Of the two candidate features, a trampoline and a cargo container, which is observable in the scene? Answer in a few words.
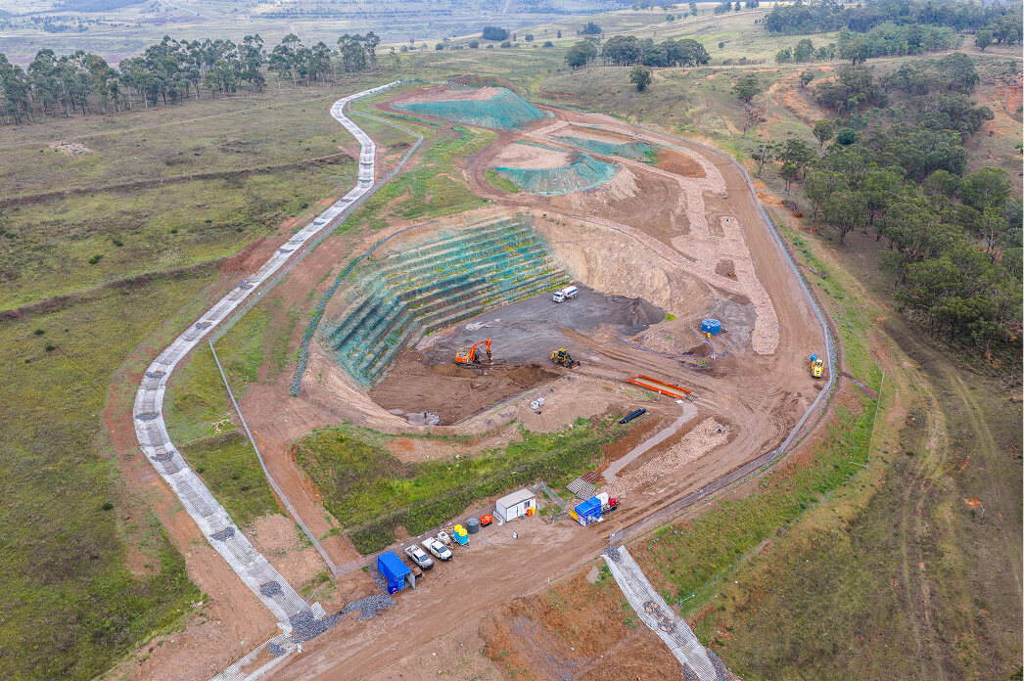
cargo container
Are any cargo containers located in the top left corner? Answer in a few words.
No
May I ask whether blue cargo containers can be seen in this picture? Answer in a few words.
Yes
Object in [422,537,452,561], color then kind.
white truck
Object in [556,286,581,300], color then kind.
white vehicle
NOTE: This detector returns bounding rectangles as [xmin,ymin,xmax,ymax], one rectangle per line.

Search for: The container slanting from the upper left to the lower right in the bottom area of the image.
[376,552,414,592]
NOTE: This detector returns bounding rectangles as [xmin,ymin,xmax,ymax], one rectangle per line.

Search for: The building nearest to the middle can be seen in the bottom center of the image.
[494,488,536,522]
